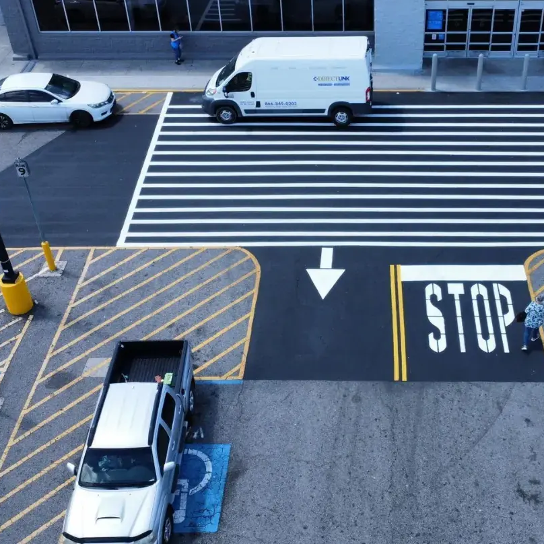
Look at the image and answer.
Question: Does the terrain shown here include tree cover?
No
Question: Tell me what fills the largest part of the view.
paved ground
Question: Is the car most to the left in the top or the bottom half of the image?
top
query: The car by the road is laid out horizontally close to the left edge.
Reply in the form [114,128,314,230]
[0,69,119,128]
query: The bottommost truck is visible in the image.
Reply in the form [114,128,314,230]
[56,338,203,544]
